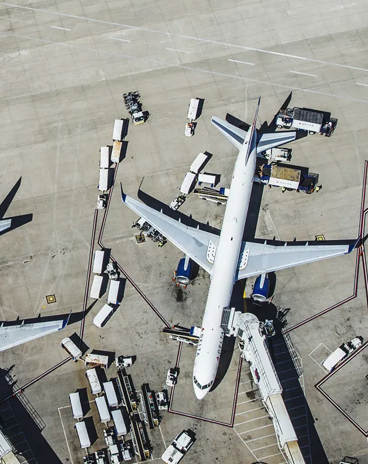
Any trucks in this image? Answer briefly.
Yes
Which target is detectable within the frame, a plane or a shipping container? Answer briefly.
plane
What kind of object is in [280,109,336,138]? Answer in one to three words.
truck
